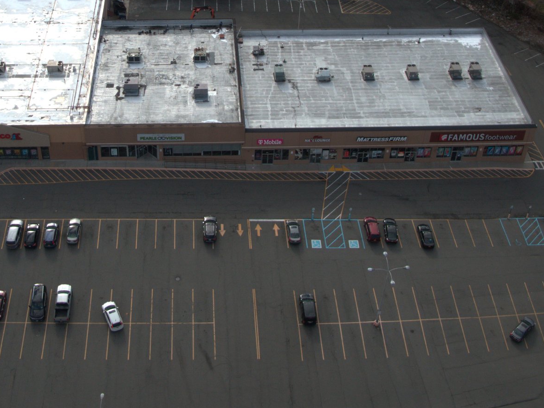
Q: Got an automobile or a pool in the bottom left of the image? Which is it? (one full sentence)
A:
The feature located in the bottom left of the image is an automobile.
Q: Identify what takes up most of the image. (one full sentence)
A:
What you mostly see from above here is paved ground.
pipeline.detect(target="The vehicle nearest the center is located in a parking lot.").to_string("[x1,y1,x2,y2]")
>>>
[286,218,304,248]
